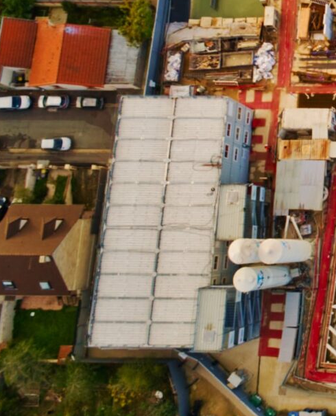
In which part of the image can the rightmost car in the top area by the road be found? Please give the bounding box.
[72,94,103,109]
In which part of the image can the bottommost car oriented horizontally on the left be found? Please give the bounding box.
[37,136,70,151]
